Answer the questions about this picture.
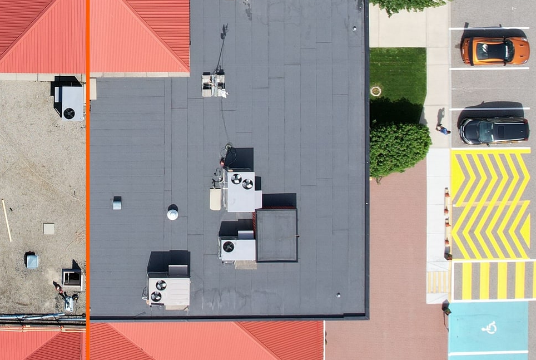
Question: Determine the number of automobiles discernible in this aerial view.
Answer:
2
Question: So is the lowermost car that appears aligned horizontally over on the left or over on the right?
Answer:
right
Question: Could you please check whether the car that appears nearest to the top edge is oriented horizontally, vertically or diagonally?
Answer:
horizontally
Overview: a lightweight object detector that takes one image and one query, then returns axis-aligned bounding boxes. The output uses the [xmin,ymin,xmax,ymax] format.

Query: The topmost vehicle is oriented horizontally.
[460,33,530,67]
